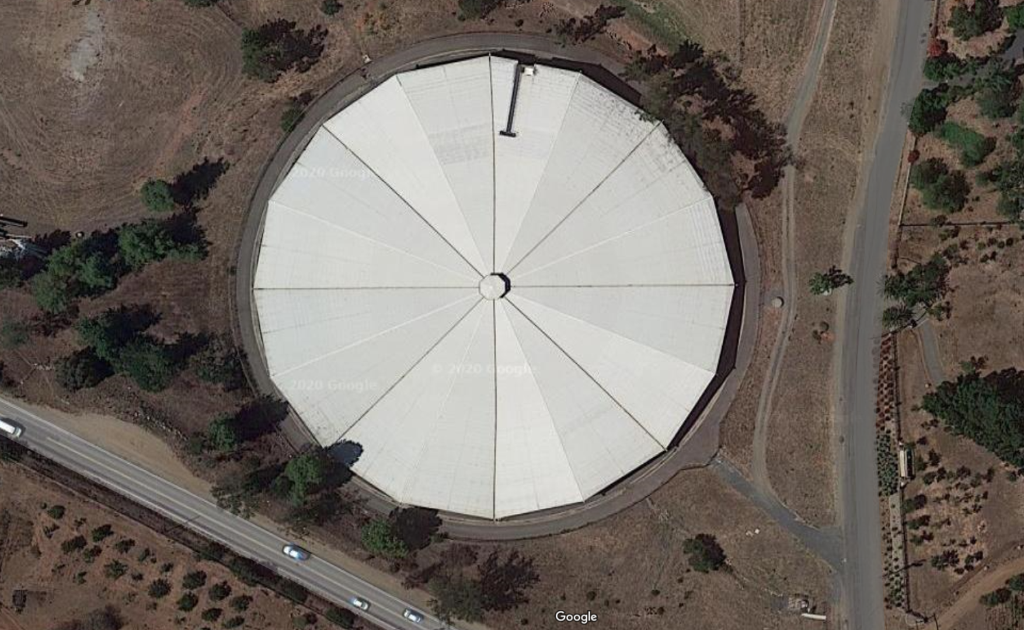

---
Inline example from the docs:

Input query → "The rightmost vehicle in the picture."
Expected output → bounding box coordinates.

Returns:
[403,608,423,622]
